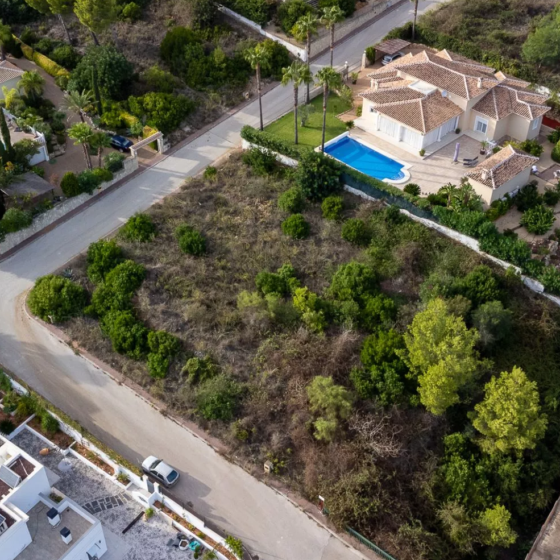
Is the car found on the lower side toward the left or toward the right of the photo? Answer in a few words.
left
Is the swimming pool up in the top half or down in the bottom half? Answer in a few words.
top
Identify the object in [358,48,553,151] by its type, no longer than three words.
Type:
house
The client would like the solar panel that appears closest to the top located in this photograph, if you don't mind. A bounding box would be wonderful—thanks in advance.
[0,465,22,489]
